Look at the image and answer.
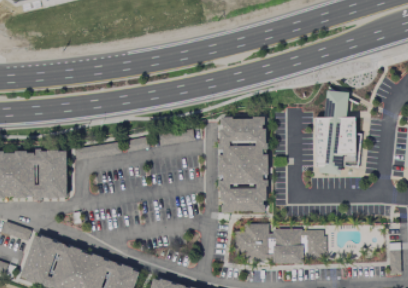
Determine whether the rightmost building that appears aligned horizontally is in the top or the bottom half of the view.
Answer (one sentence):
You can find the rightmost building that appears aligned horizontally in the bottom half.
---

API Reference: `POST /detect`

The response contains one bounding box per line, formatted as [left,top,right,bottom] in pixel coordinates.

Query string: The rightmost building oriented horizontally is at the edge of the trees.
[238,224,328,264]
